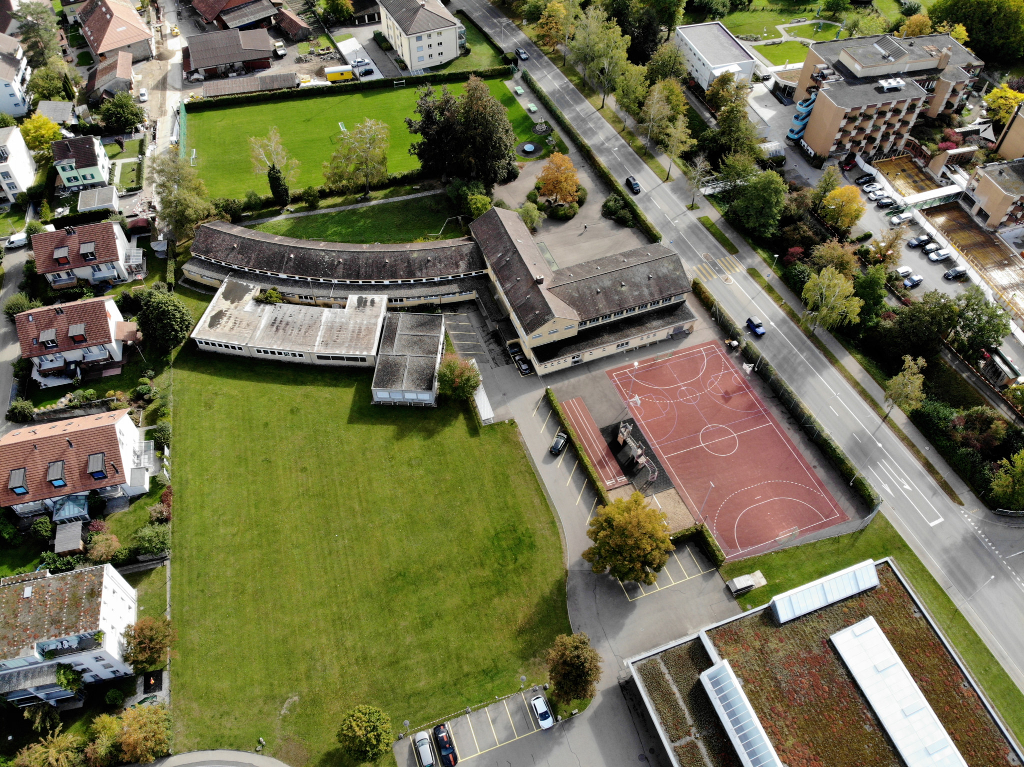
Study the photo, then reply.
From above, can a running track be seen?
Yes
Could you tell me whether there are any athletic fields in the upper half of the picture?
Yes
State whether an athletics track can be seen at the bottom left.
No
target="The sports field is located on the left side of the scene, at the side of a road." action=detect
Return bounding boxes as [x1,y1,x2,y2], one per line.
[184,76,568,202]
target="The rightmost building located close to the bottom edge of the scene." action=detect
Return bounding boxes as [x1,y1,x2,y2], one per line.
[618,554,1024,767]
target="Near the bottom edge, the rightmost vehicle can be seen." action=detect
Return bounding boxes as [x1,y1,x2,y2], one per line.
[531,697,553,733]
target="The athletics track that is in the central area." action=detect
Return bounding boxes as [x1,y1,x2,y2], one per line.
[560,397,629,490]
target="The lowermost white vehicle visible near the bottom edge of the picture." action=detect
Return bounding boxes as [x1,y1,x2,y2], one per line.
[416,730,436,767]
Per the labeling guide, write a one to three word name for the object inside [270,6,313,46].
barn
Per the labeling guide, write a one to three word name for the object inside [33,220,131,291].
house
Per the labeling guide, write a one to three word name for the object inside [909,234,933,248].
car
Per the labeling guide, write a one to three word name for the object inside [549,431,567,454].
car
